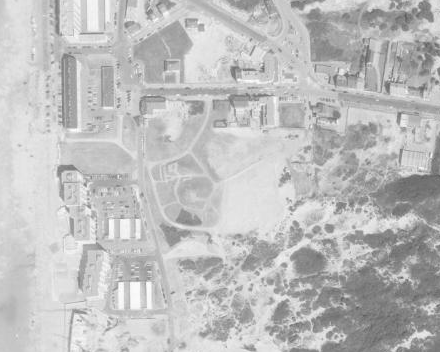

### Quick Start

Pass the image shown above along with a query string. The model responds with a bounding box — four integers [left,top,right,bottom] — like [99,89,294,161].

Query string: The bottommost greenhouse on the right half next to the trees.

[402,150,429,168]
